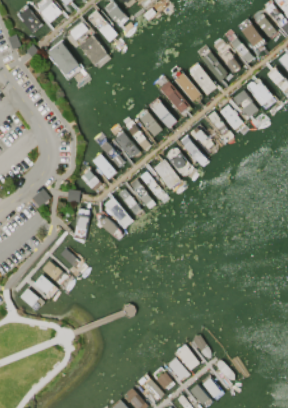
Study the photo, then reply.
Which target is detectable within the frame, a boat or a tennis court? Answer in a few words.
boat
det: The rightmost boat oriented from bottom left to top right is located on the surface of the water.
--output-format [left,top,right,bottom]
[269,100,286,115]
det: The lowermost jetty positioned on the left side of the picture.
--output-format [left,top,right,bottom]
[71,303,136,334]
